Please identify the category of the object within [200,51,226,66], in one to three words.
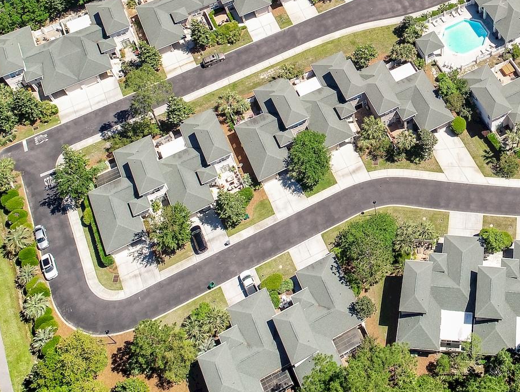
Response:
car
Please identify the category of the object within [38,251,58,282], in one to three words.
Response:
car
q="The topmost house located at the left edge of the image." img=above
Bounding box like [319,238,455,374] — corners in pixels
[0,0,142,118]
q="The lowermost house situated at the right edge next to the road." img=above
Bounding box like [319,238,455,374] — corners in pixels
[398,226,520,358]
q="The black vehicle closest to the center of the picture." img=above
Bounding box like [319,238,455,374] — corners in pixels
[189,224,207,255]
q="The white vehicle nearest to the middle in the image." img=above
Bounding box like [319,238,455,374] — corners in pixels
[240,265,259,297]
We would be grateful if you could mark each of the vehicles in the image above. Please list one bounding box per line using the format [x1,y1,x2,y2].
[200,51,226,66]
[240,265,259,297]
[189,224,207,255]
[33,223,50,251]
[38,251,58,282]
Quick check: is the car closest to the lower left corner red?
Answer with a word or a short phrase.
No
